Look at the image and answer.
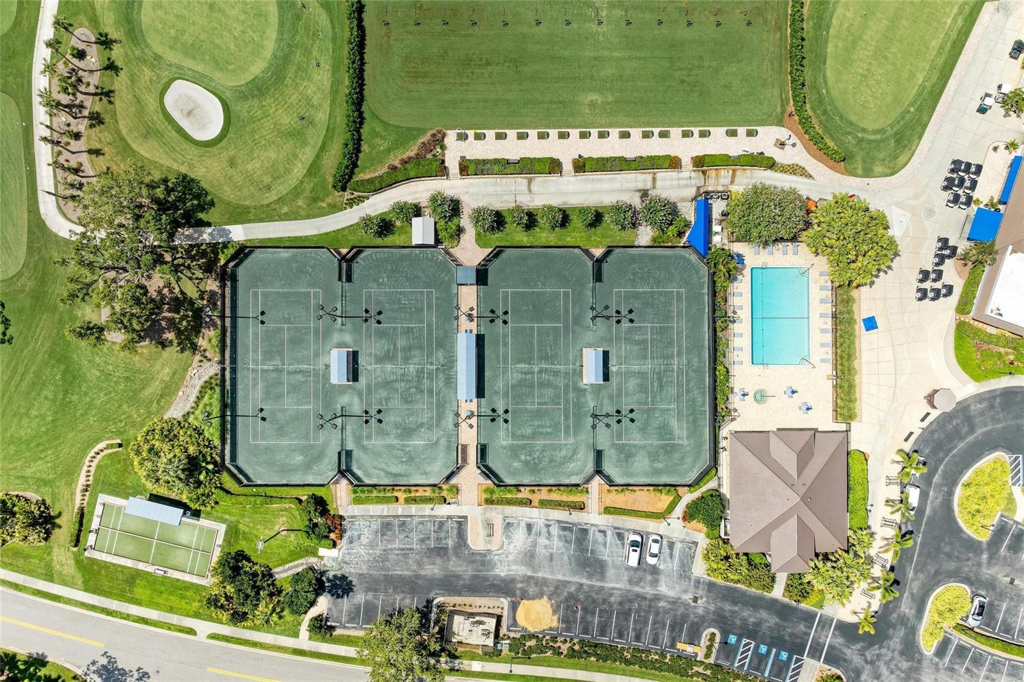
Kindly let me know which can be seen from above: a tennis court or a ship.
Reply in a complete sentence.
The image shows a tennis court.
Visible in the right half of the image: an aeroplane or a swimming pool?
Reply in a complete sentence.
You can see a swimming pool in the right half of the image.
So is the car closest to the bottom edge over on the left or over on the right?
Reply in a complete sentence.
You can find the car closest to the bottom edge on the right side of the picture.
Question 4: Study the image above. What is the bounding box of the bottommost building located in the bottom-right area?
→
[727,429,848,572]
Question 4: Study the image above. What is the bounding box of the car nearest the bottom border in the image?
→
[965,594,985,627]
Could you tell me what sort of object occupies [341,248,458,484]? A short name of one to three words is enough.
tennis court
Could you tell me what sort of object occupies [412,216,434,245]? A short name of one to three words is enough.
shed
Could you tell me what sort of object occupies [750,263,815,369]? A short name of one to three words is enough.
swimming pool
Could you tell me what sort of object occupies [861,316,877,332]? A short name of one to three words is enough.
umbrella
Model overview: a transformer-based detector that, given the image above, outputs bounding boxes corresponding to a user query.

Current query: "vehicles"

[1004,37,1024,58]
[914,268,930,284]
[966,163,983,179]
[965,594,985,627]
[645,533,661,565]
[939,281,953,297]
[992,84,1011,102]
[933,236,949,252]
[938,176,955,193]
[925,285,941,301]
[943,244,958,260]
[957,193,974,210]
[975,95,994,115]
[944,191,962,208]
[927,267,943,283]
[949,176,967,192]
[956,159,973,177]
[945,159,962,176]
[625,533,642,567]
[961,178,979,194]
[912,285,928,301]
[929,252,946,268]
